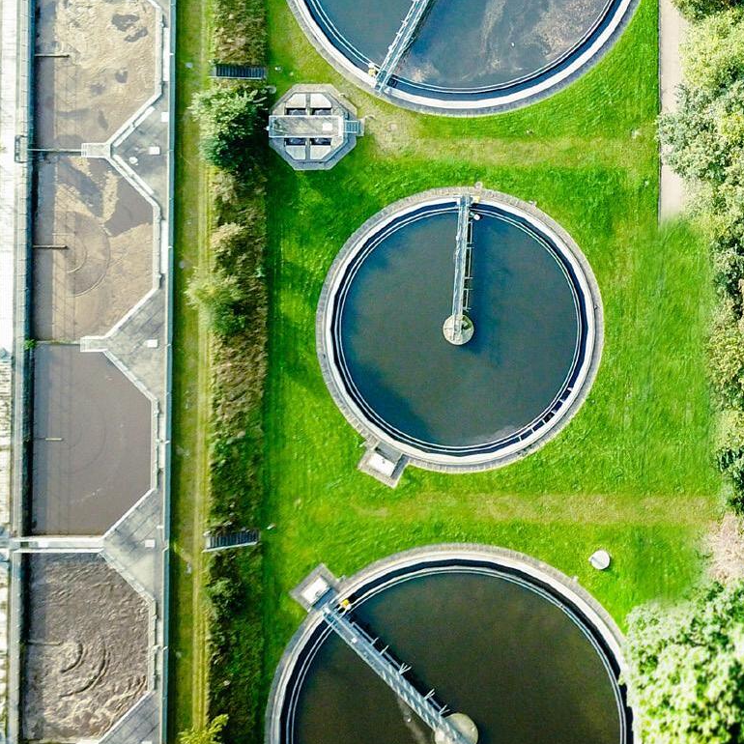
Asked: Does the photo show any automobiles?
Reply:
No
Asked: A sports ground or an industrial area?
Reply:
industrial area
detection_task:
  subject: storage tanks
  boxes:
[288,0,638,119]
[265,544,641,744]
[316,186,603,473]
